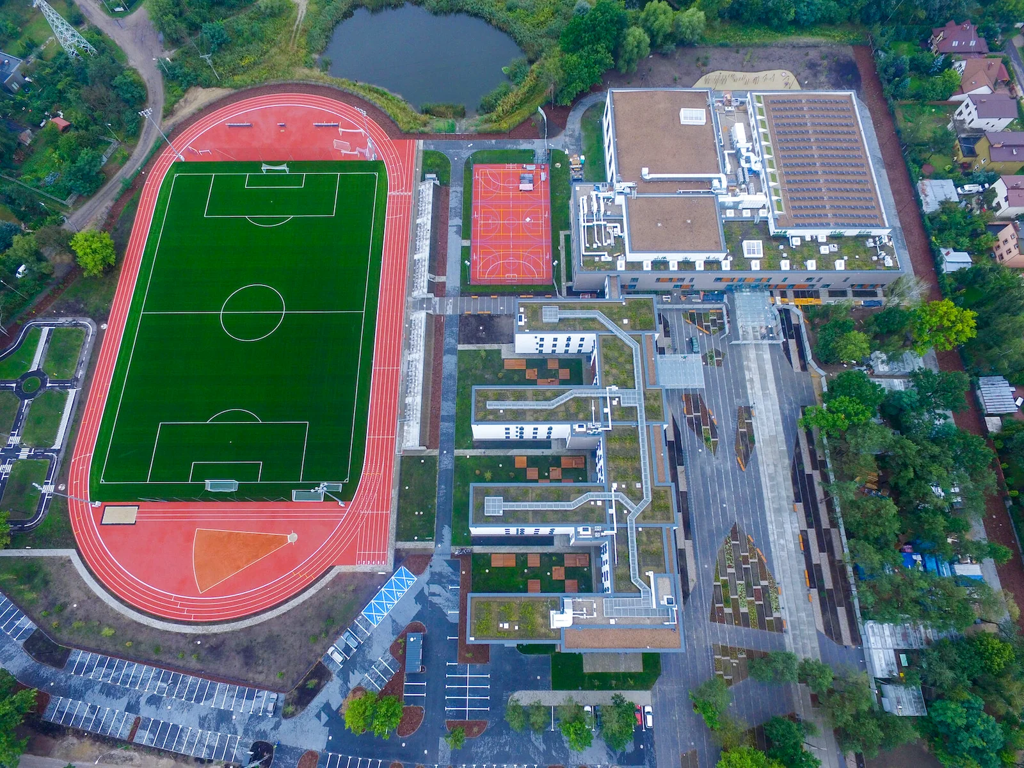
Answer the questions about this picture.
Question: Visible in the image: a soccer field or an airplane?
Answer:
soccer field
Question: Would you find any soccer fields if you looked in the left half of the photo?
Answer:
Yes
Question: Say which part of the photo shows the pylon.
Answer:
top left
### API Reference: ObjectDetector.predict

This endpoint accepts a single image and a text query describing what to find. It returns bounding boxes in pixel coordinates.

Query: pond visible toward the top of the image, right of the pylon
[320,3,525,117]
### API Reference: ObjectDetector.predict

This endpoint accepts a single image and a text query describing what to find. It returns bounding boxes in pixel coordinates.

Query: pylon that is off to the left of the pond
[32,0,94,60]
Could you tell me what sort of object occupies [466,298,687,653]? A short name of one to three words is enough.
building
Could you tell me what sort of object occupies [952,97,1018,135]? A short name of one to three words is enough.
house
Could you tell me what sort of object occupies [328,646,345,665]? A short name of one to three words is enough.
car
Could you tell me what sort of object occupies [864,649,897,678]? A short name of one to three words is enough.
shed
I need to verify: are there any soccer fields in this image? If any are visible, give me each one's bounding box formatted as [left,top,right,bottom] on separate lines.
[97,161,378,501]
